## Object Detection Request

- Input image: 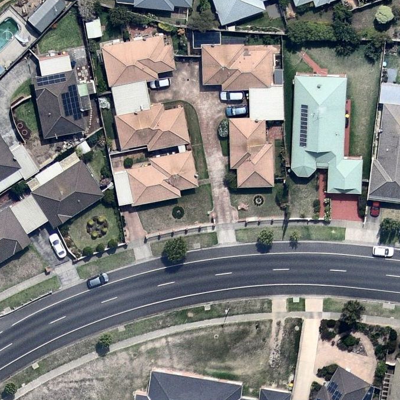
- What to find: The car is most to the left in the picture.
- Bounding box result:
[48,232,67,257]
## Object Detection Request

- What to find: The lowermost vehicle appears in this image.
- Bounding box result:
[85,273,109,288]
